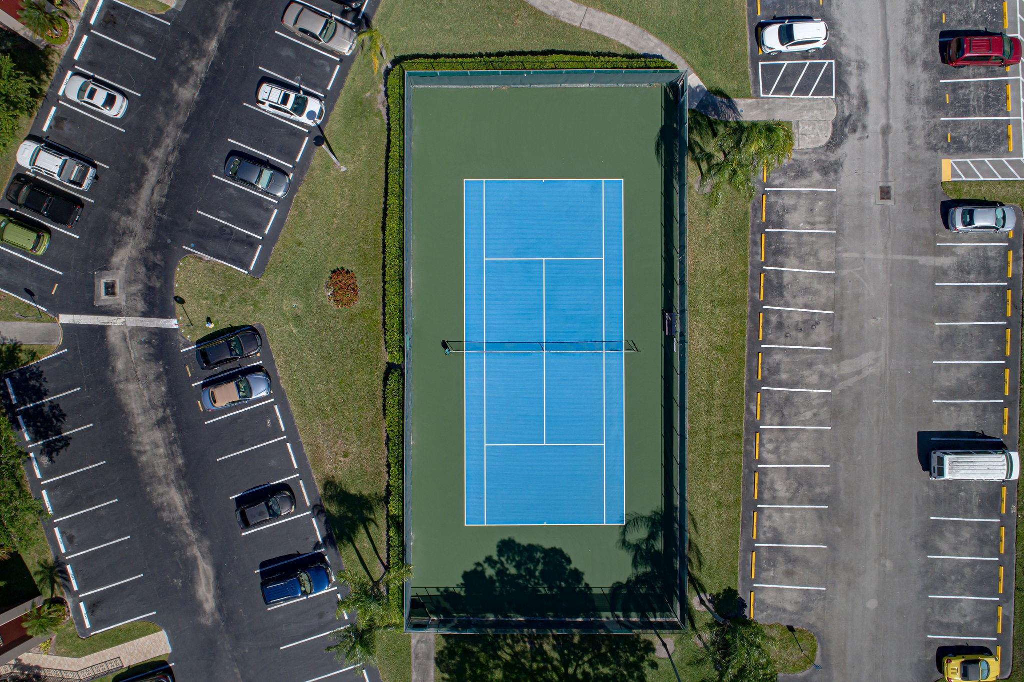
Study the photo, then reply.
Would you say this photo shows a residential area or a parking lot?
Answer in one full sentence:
The area seen from above is a parking lot.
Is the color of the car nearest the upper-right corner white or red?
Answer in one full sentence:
In this view, the car nearest the upper-right corner is red.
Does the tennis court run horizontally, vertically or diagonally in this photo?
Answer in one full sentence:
The tennis court is oriented vertically.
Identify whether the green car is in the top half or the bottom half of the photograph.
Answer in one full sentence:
The green car sits in the top half of the picture.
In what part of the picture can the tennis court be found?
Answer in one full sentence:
The tennis court is located in the center region of the scene.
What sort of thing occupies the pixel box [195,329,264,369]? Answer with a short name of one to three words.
car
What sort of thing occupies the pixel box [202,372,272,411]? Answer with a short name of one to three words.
car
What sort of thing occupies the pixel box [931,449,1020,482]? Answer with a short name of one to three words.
van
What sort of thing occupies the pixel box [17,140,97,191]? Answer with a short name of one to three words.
truck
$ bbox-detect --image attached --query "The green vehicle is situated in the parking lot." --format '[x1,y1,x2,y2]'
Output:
[0,214,50,255]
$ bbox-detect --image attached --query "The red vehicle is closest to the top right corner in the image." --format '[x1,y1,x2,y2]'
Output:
[948,33,1022,68]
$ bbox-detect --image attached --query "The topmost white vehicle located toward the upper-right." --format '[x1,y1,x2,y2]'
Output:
[760,20,828,56]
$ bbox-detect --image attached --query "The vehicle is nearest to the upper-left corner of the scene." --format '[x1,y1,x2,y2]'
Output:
[64,76,131,120]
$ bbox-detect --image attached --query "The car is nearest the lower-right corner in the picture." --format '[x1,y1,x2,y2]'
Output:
[942,652,1000,682]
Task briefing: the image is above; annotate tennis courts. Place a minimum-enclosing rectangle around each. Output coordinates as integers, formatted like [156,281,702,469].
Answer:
[411,83,680,622]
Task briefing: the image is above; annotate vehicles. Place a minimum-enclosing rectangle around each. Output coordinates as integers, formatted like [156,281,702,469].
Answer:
[6,177,85,228]
[17,140,97,191]
[760,20,828,56]
[64,76,131,120]
[224,154,292,197]
[235,491,295,529]
[948,33,1022,68]
[260,562,333,605]
[256,81,326,129]
[931,449,1020,482]
[202,372,272,411]
[195,329,264,369]
[942,652,1000,682]
[282,1,358,56]
[0,214,50,255]
[948,203,1016,234]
